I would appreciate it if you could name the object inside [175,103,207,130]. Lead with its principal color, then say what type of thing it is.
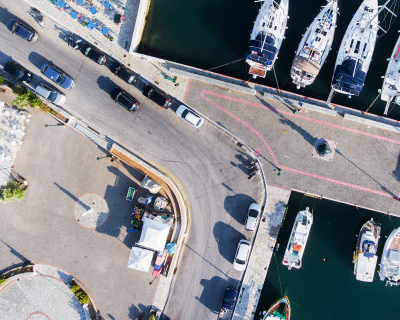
white car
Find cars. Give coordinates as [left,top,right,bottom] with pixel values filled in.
[216,285,238,320]
[233,238,252,270]
[175,103,207,130]
[109,62,141,87]
[5,18,40,44]
[142,84,175,112]
[32,82,68,108]
[78,41,109,66]
[245,202,262,232]
[38,60,78,90]
[1,59,35,85]
[109,84,143,114]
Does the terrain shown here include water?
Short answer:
Yes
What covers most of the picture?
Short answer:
paved ground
